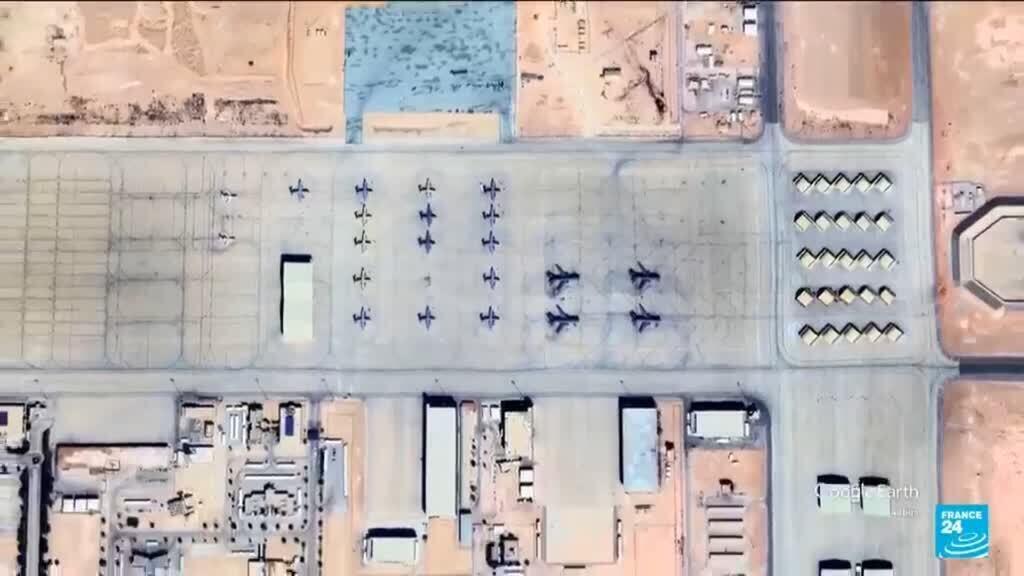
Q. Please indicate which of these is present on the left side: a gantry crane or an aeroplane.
aeroplane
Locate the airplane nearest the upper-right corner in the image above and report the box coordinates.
[631,264,662,291]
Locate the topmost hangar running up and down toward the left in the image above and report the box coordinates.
[283,261,314,340]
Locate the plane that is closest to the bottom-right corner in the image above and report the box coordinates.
[631,307,662,334]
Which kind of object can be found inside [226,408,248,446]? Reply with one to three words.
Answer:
building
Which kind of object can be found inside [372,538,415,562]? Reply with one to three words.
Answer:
hangar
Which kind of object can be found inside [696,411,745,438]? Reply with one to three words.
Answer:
hangar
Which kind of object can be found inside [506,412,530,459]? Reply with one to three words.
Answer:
building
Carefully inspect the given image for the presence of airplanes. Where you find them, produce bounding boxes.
[355,308,371,331]
[549,307,579,334]
[420,309,436,332]
[631,307,662,334]
[484,269,501,292]
[218,231,233,248]
[355,205,372,228]
[354,269,371,292]
[421,206,437,229]
[356,179,373,202]
[292,179,308,202]
[484,233,500,256]
[549,266,579,293]
[420,178,437,201]
[420,232,436,255]
[355,232,372,255]
[483,309,499,332]
[485,180,501,203]
[631,264,662,291]
[221,188,235,205]
[484,206,500,229]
